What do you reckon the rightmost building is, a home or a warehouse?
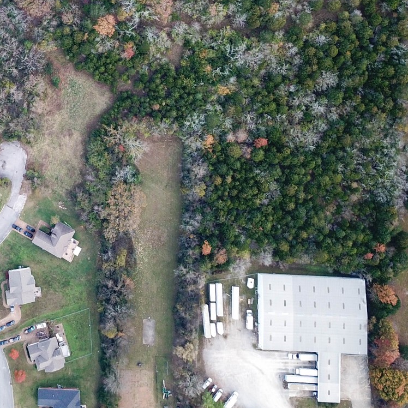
warehouse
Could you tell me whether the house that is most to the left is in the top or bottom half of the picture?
bottom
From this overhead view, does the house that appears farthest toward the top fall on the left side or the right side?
left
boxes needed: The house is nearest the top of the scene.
[32,223,82,262]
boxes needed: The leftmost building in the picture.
[5,267,41,305]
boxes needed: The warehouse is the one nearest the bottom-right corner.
[256,273,368,404]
